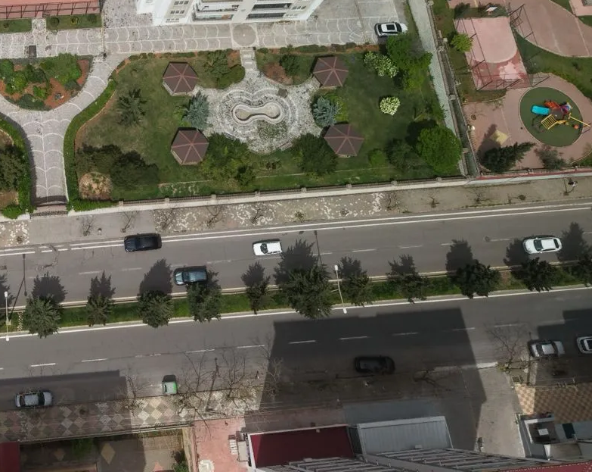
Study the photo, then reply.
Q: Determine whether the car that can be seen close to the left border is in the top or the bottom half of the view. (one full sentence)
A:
Seen from above, the car that can be seen close to the left border lies in the bottom half of the view.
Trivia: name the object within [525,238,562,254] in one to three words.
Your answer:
car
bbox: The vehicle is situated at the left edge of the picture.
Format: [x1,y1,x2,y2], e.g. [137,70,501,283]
[14,389,53,409]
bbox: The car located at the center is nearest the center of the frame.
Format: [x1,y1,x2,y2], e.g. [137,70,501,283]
[252,239,285,256]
